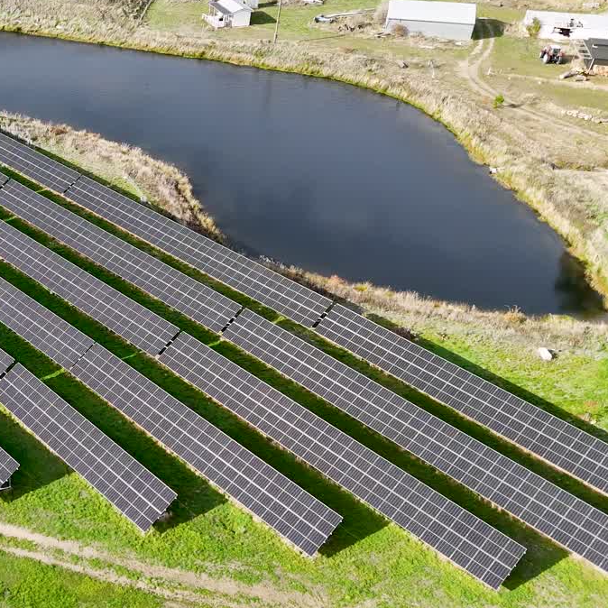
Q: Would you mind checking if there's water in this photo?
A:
Yes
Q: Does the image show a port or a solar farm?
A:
solar farm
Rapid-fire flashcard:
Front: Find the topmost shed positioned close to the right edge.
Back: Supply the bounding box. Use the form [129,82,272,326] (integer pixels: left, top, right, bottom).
[517,6,608,41]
